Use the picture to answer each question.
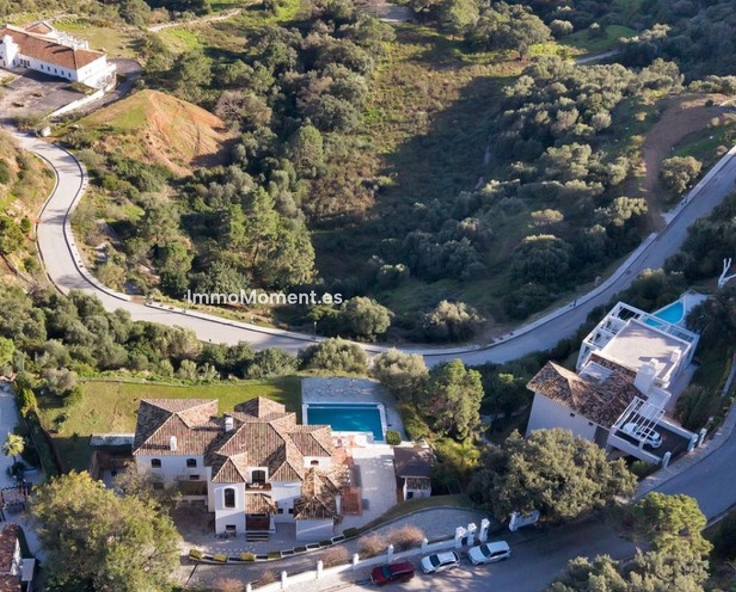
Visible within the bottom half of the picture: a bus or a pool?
pool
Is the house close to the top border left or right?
left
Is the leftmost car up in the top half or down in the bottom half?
bottom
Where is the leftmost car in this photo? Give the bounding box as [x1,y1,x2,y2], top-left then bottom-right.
[371,555,418,583]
